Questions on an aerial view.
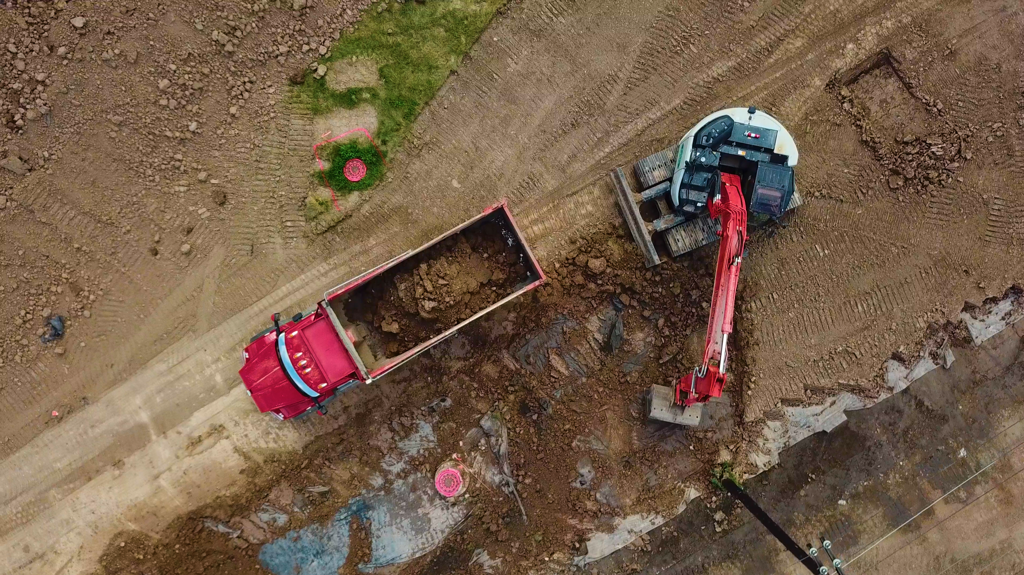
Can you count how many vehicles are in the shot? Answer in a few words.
two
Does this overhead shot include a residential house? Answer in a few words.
No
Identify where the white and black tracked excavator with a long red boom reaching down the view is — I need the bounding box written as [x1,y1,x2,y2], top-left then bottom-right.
[609,106,808,426]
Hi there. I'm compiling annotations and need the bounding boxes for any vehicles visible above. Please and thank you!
[609,106,808,426]
[239,197,552,425]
